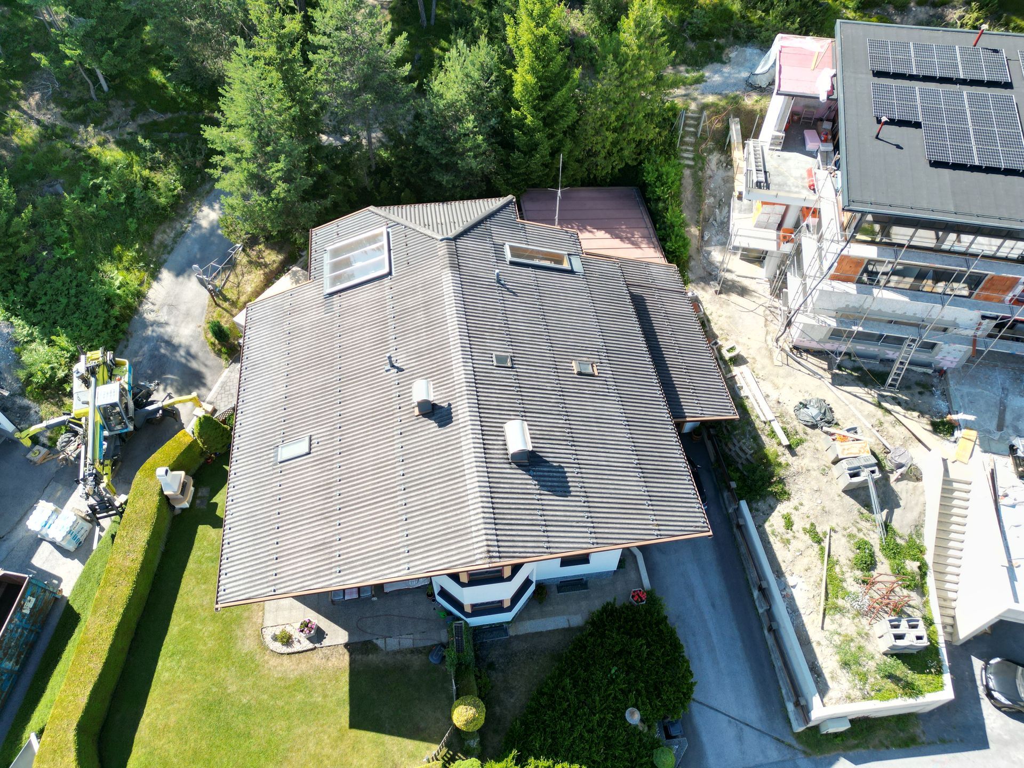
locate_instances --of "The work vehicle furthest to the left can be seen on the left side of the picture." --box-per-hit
[16,350,209,549]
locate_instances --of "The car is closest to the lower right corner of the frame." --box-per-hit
[980,659,1024,716]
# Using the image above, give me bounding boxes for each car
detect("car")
[677,425,713,510]
[980,659,1024,716]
